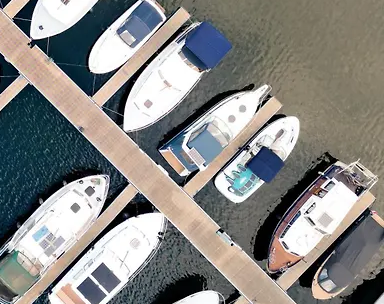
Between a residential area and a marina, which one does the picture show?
marina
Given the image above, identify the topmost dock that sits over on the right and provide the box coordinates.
[182,96,284,202]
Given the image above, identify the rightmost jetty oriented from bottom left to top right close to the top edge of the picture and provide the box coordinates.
[89,6,191,111]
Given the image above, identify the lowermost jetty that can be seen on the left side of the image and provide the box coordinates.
[17,178,143,304]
